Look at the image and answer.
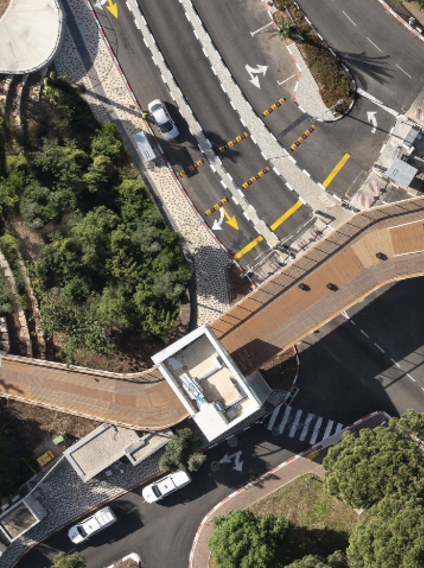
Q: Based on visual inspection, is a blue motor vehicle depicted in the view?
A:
No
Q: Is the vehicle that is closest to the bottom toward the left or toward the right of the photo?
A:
left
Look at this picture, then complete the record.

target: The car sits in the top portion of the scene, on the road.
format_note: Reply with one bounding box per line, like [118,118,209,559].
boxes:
[148,97,181,144]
